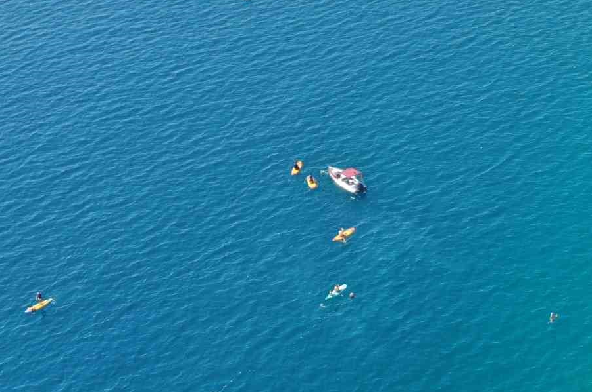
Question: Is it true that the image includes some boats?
Yes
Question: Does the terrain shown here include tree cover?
No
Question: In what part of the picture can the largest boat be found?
center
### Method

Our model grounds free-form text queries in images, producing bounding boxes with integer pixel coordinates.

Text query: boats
[333,227,355,239]
[306,174,318,187]
[330,164,367,195]
[25,298,53,312]
[291,161,302,173]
